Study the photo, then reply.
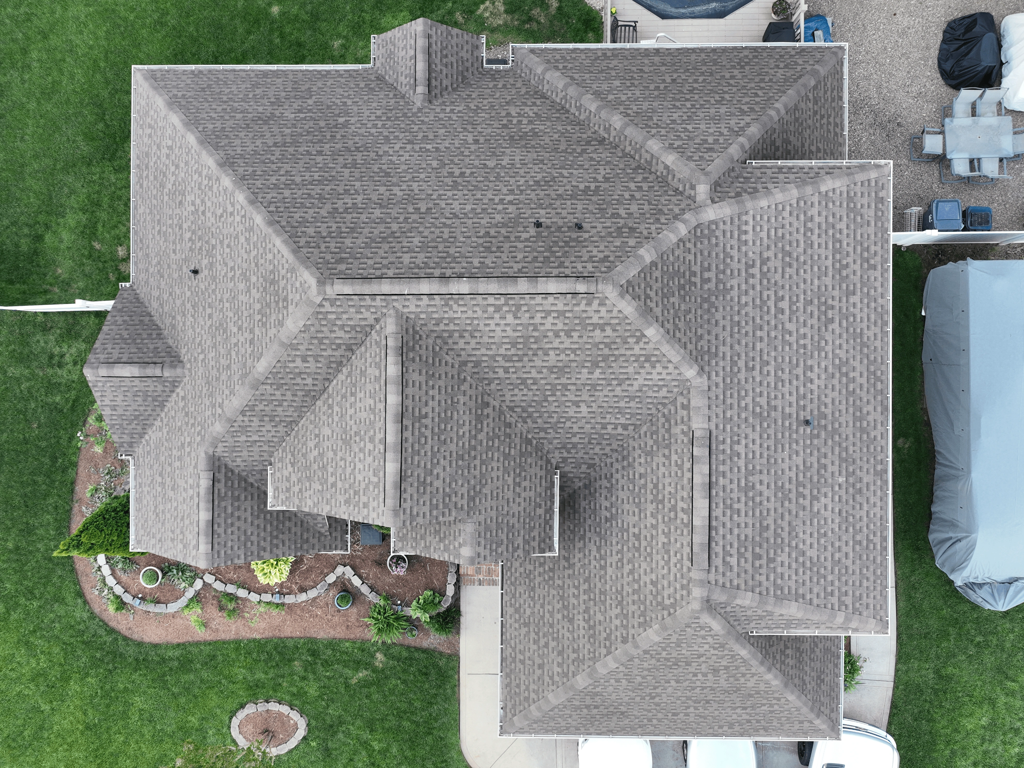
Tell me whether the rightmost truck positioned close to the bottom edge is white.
Yes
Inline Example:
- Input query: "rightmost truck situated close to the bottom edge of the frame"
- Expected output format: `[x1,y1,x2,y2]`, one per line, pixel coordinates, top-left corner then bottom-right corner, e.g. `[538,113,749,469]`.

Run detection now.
[798,703,897,768]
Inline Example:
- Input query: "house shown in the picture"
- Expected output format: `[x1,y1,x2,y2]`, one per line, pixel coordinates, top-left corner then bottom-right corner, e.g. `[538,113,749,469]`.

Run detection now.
[82,17,893,739]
